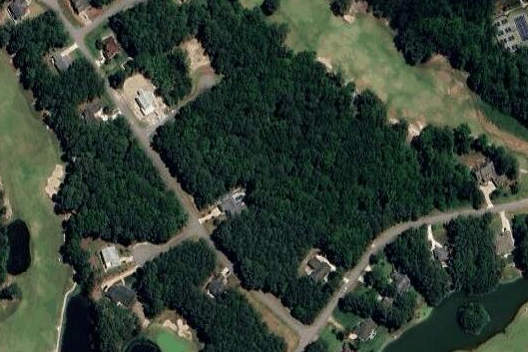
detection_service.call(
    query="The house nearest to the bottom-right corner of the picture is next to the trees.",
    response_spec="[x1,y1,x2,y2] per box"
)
[496,235,515,253]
